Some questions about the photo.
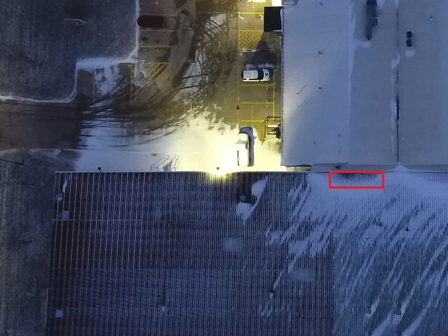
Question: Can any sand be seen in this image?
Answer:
No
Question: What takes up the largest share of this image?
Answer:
buildings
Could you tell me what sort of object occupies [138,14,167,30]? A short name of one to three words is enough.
car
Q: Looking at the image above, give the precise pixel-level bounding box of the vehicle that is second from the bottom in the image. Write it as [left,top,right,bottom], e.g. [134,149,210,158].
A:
[242,67,273,83]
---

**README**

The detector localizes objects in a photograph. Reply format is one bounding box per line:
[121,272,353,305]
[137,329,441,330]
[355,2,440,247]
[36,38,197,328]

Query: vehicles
[242,67,273,83]
[237,132,251,167]
[138,14,167,30]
